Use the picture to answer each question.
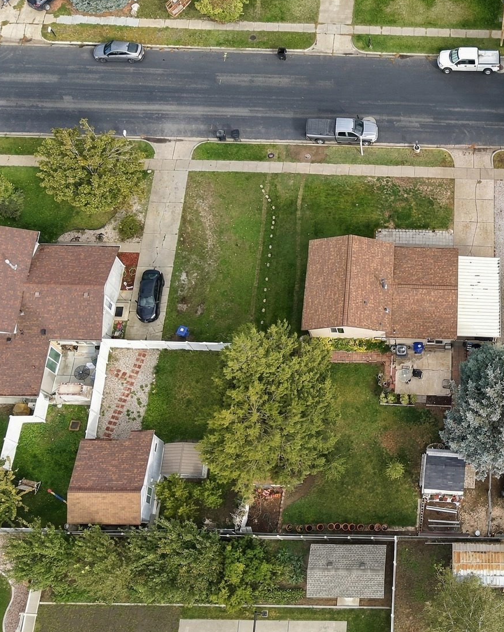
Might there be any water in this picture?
No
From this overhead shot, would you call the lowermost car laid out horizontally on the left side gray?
Yes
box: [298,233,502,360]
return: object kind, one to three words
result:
house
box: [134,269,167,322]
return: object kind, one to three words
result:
car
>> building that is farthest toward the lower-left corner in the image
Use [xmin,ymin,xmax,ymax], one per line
[66,431,165,526]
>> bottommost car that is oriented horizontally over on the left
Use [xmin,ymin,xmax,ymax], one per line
[90,42,141,66]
